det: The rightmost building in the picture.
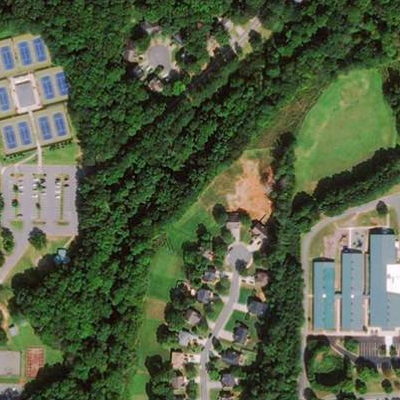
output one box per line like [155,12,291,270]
[370,233,400,335]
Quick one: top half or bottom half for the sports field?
top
